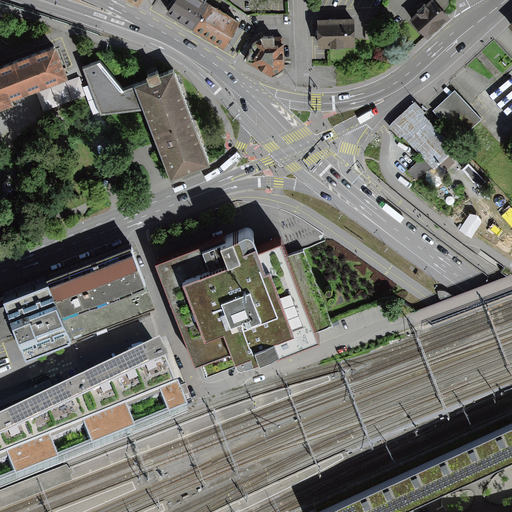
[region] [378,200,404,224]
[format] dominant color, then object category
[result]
white truck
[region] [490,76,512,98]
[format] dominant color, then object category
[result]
white vehicle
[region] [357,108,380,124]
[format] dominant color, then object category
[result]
white vehicle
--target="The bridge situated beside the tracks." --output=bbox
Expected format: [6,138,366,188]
[398,270,512,327]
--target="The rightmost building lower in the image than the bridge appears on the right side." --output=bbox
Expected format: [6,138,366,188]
[317,421,512,512]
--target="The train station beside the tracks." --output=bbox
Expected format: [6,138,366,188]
[0,376,344,512]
